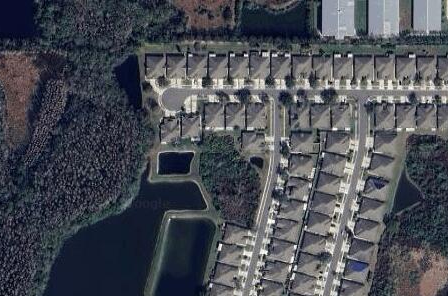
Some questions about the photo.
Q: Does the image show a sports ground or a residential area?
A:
residential area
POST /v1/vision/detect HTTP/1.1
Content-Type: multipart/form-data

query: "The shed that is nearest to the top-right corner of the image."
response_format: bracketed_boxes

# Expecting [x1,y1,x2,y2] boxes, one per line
[413,0,441,33]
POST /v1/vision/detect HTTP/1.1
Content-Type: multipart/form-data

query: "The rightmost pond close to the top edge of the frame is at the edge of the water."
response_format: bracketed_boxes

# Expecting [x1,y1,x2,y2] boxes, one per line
[241,0,308,37]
